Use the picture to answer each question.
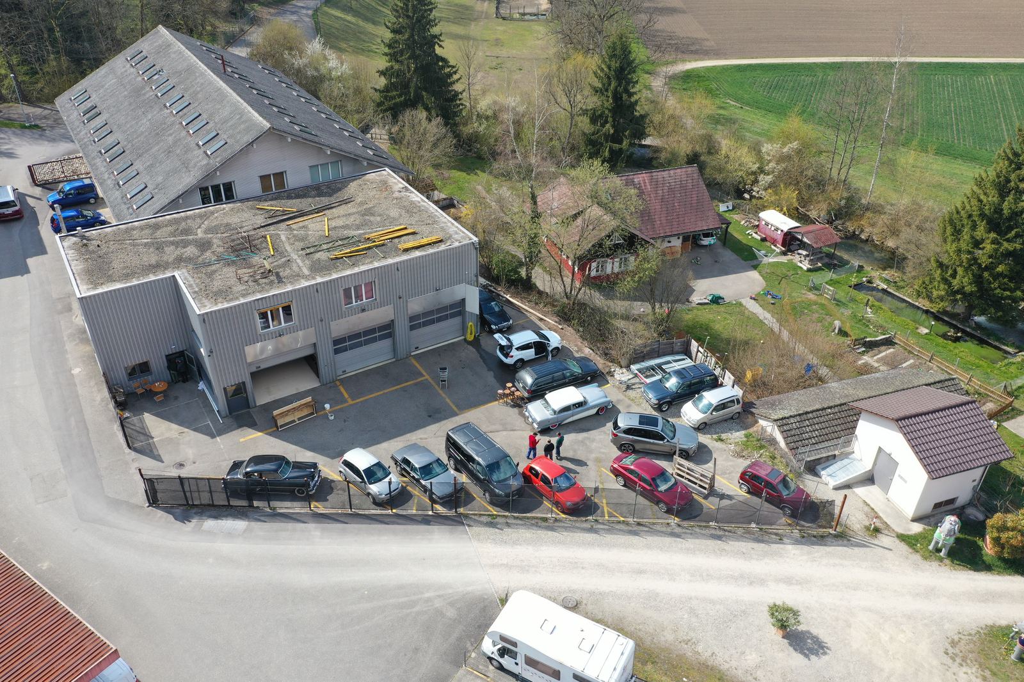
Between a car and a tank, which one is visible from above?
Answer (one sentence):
This aerial view contains a car.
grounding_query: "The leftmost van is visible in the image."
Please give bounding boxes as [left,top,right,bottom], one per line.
[0,183,31,217]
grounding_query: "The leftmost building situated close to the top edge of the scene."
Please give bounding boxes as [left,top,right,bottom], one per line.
[54,22,417,224]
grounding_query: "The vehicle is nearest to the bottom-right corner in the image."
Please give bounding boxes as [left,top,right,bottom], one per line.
[734,453,817,517]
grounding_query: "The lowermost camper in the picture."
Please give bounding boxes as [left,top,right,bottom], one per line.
[475,587,641,682]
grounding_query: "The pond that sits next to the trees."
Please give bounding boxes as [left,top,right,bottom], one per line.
[849,286,1024,370]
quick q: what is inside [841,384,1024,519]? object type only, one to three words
house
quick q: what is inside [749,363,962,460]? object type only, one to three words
shed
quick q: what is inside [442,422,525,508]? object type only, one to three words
van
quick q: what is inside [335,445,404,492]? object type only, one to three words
car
